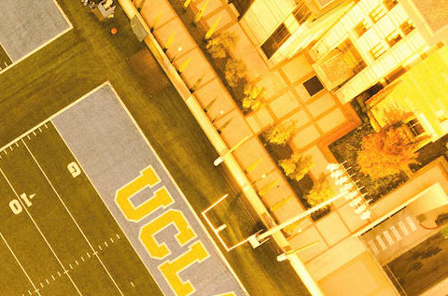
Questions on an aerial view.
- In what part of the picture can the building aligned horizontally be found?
top right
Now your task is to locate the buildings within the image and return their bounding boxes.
[346,42,448,150]
[218,0,448,105]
